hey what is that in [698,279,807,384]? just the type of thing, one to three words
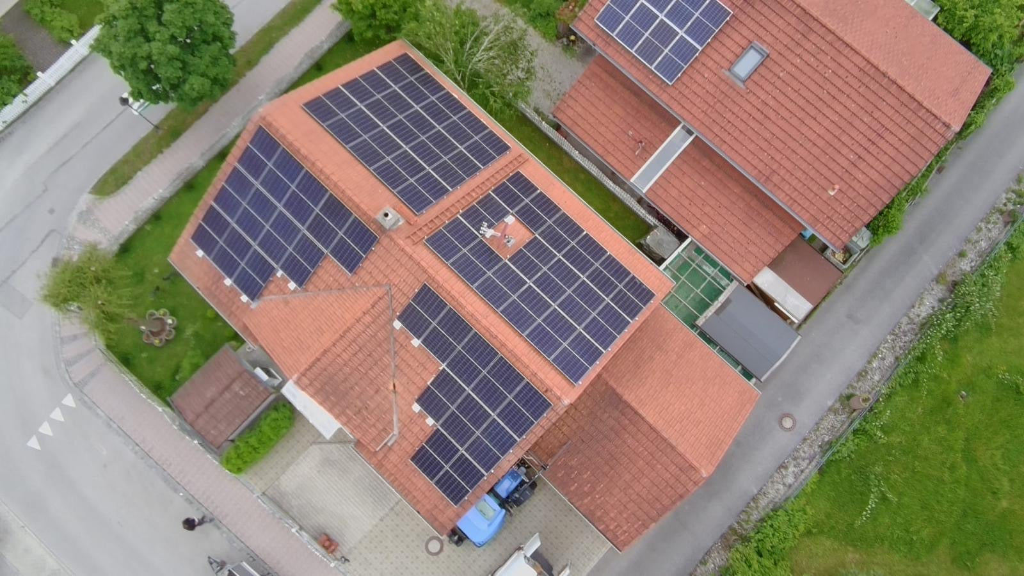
shed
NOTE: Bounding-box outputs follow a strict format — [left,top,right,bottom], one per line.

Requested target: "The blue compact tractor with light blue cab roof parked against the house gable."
[451,469,536,549]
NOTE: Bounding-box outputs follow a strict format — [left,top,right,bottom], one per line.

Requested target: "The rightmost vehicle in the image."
[498,522,577,576]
